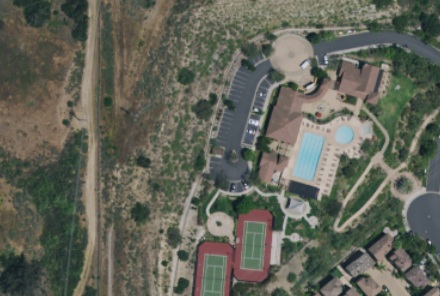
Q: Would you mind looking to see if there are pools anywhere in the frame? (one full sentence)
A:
Yes, you can see a pool in this photo.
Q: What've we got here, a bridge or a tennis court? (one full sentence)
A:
I can see a tennis court in this picture.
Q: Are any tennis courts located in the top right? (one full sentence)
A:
No, there's no tennis court to be seen in the top right.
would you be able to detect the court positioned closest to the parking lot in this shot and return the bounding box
[234,210,275,282]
